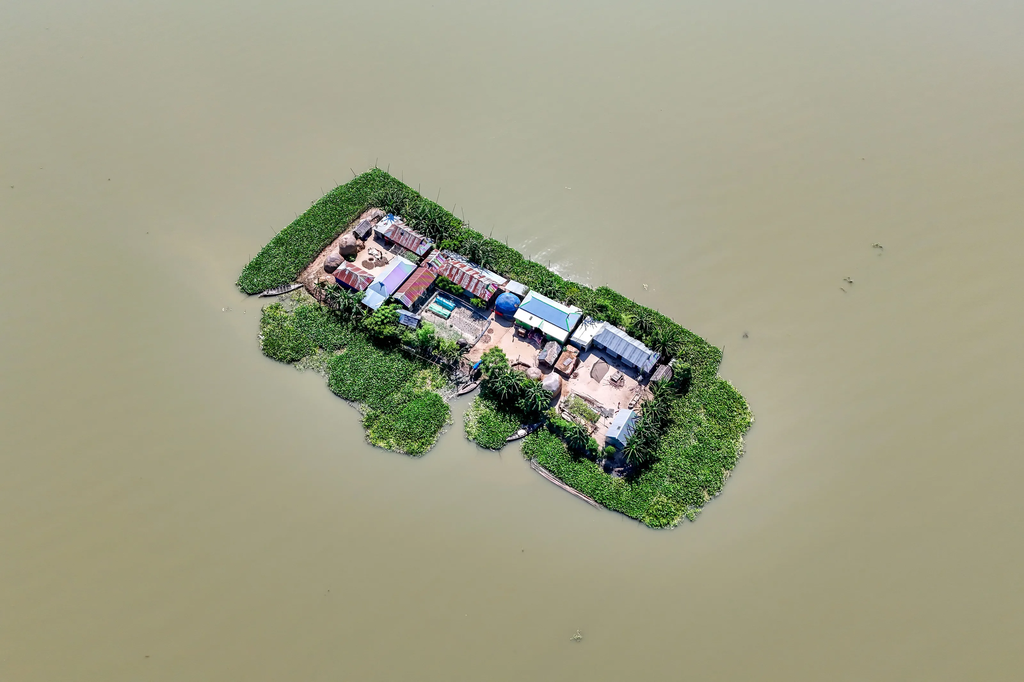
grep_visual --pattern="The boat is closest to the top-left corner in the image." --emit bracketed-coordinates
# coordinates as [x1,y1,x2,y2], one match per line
[258,283,302,298]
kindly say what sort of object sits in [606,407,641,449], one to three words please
house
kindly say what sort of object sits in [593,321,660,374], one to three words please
house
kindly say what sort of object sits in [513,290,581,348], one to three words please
building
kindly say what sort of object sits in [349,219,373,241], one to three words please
shed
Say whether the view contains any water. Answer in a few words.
Yes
